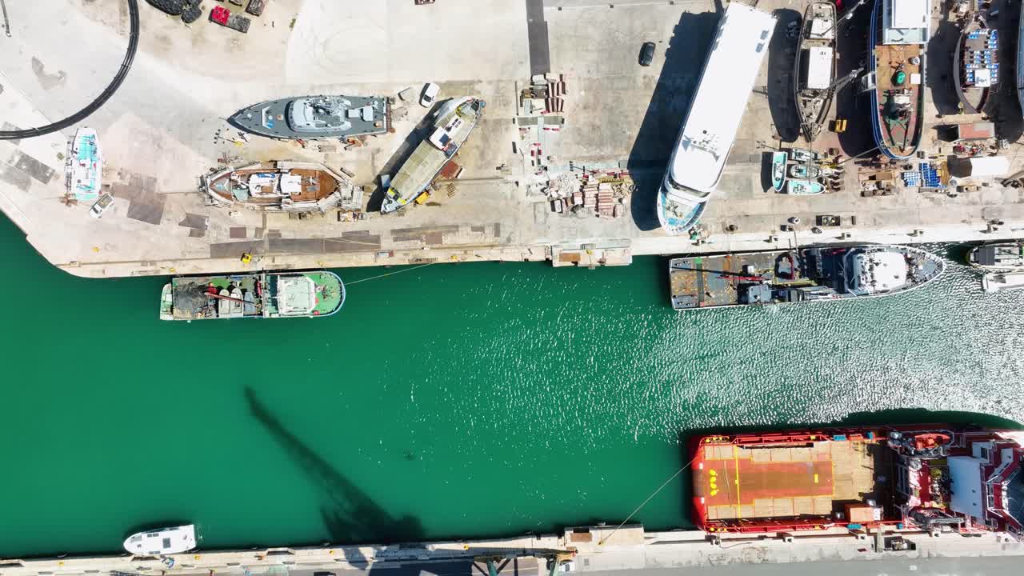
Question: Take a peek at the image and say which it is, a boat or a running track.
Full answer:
This aerial view contains a boat.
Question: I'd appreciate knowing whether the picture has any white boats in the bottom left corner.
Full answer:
Yes, I can see a white boat in the bottom left corner.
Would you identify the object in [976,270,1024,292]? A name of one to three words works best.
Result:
boat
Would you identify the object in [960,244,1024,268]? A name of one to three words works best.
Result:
boat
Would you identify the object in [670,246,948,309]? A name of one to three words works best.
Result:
ship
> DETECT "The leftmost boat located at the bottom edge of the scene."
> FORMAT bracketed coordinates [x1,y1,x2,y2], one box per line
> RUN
[122,523,198,553]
